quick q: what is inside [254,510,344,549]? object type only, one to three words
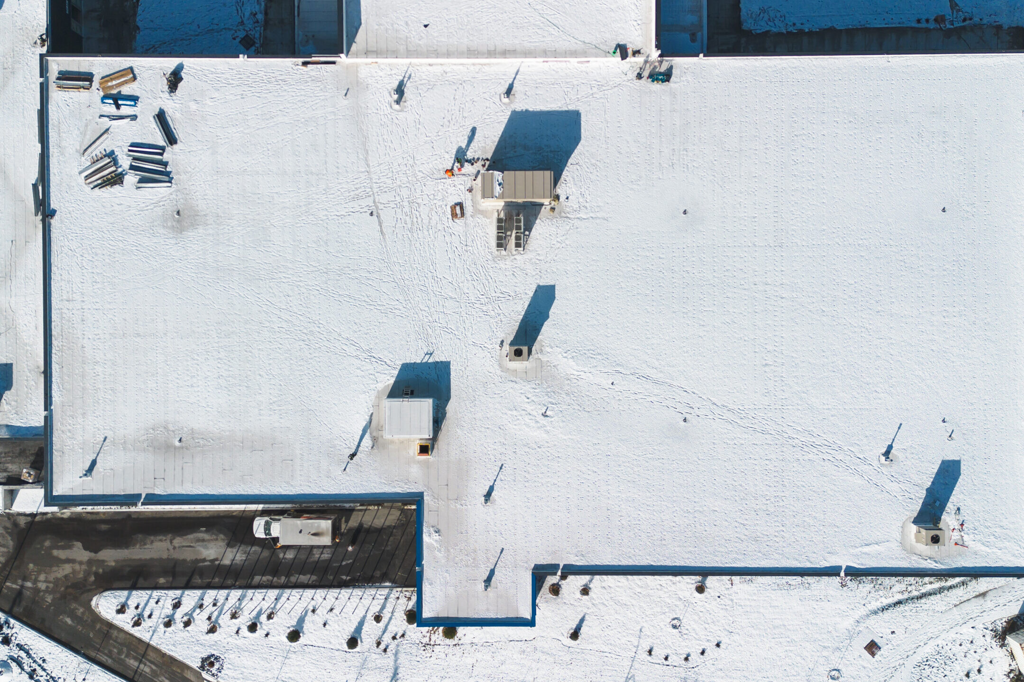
truck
